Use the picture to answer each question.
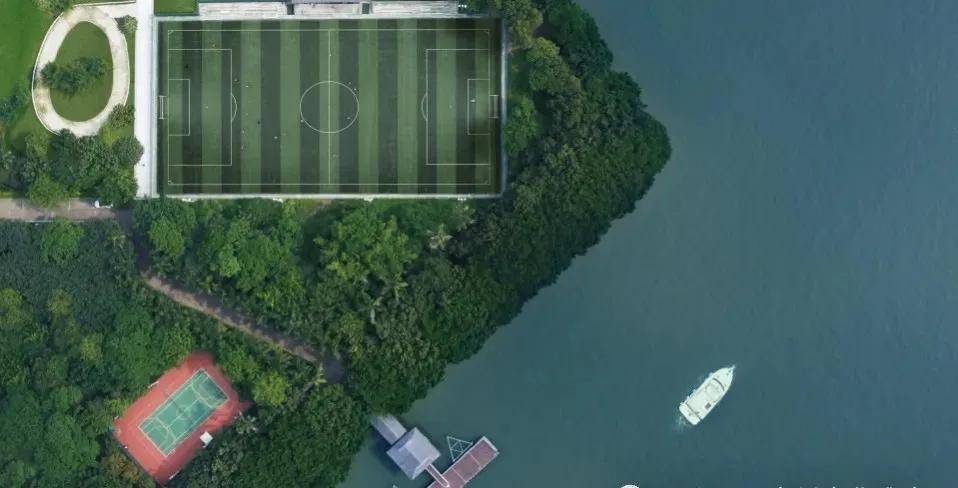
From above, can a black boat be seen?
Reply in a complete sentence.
No, there is no black boat in the image.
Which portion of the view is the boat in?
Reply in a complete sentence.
The boat is located in the bottom right region of the scene.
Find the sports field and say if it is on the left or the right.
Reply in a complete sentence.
You can find the sports field on the left side of the picture.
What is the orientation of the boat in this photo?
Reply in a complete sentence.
I'd say the boat is aligned diagonally in the picture.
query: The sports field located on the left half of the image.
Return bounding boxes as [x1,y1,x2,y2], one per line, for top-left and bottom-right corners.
[157,20,501,194]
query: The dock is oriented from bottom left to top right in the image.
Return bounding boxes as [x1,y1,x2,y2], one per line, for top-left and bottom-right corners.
[428,436,500,488]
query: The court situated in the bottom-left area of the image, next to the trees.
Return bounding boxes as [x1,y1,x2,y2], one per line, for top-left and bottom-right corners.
[113,351,250,486]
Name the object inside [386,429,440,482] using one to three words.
building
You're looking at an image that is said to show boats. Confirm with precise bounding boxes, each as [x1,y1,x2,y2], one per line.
[680,367,736,422]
